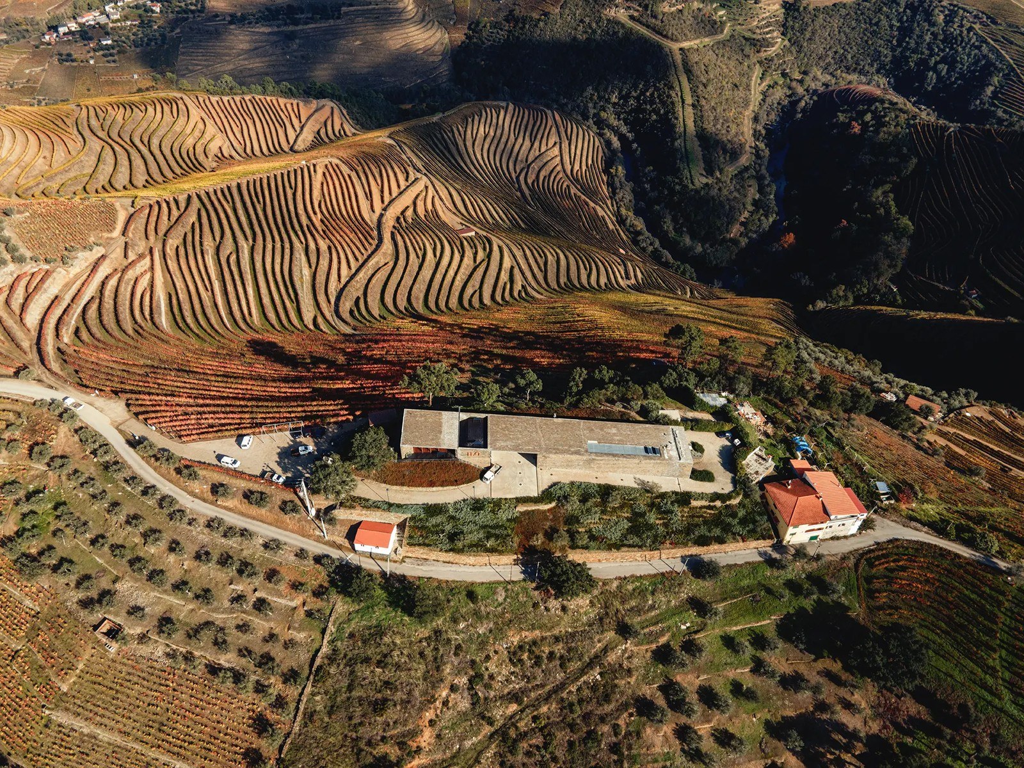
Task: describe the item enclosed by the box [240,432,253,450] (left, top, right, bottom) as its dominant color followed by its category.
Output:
white vehicle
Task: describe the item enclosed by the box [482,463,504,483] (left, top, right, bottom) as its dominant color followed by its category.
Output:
white vehicle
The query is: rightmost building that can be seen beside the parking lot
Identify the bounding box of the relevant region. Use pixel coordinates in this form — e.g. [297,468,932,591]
[397,408,693,479]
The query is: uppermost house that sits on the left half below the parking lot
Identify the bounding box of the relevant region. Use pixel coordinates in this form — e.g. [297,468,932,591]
[353,517,394,555]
